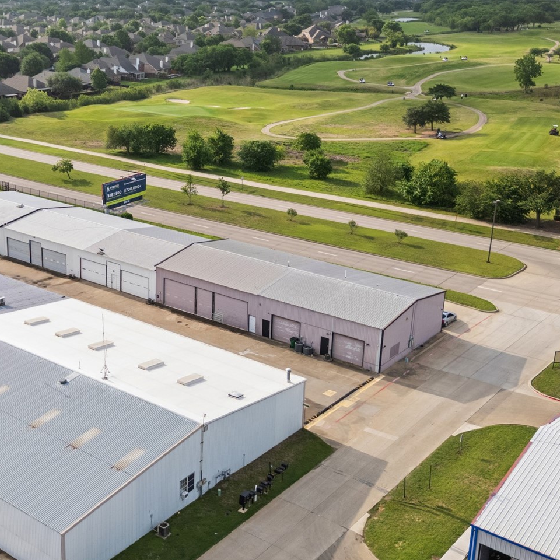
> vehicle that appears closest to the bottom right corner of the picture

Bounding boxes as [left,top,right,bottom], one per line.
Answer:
[442,308,456,326]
